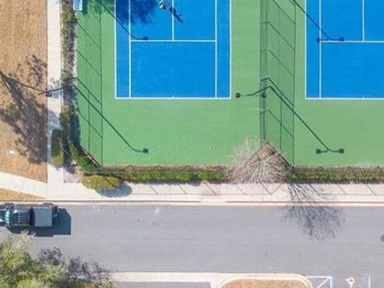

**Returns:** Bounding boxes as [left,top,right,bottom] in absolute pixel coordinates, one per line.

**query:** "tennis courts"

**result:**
[304,0,384,99]
[113,0,231,98]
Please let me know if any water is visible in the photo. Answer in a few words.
No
